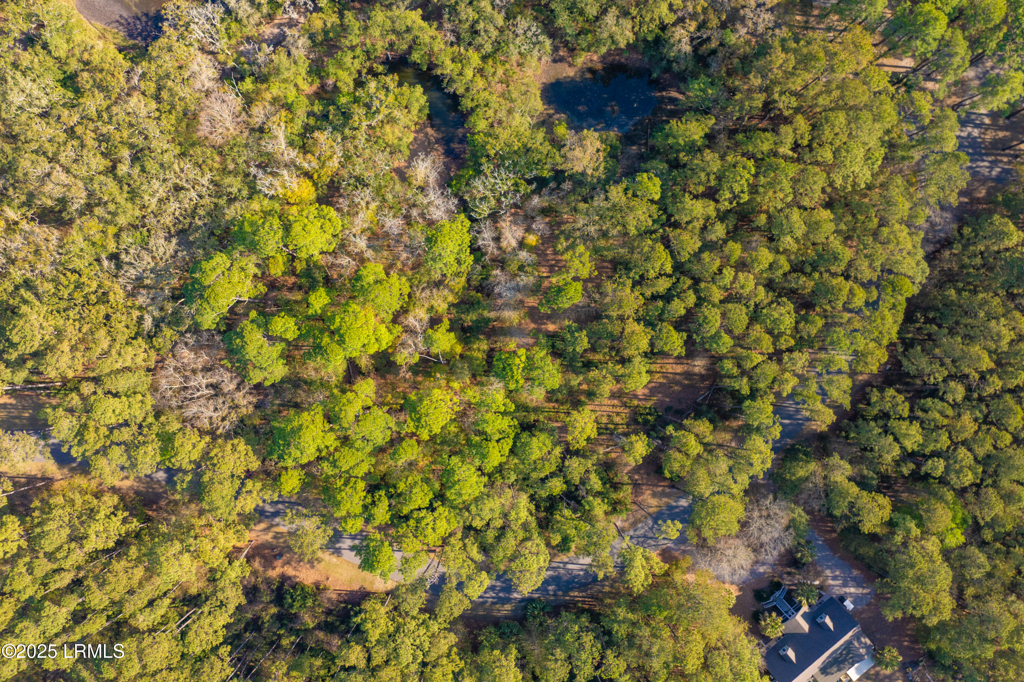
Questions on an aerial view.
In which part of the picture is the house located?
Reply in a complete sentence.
The house is in the bottom right part of the image.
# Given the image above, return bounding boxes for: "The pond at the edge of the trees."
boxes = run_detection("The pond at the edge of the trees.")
[545,65,657,131]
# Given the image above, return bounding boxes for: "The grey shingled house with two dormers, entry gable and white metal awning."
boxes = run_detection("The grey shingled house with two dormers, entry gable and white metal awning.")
[758,588,877,682]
